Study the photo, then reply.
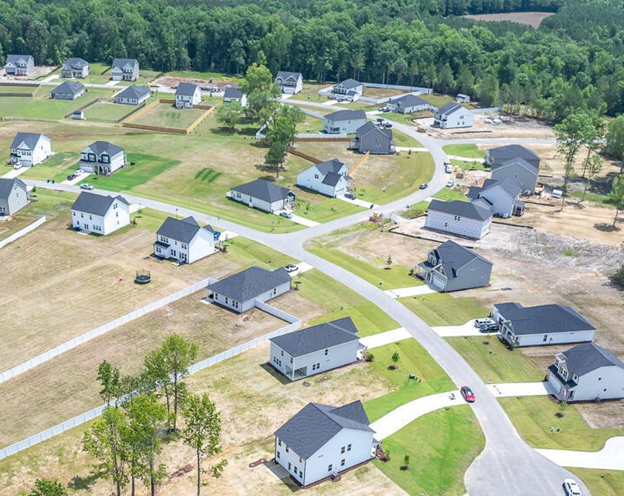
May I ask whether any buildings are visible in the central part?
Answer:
Yes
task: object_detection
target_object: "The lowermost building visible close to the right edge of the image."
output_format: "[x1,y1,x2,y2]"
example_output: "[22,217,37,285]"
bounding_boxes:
[545,340,624,406]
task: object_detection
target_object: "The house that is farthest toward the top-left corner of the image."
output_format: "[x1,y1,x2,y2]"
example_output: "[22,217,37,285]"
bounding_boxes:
[4,49,33,76]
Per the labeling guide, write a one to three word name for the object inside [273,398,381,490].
house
